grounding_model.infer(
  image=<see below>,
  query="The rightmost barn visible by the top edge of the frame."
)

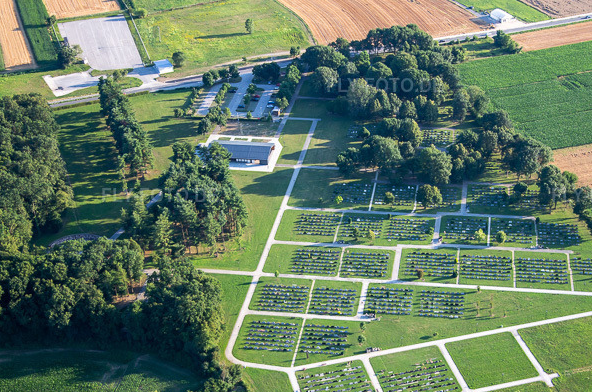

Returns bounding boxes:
[484,8,517,26]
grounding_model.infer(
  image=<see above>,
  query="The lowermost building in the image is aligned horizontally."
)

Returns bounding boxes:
[213,135,276,165]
